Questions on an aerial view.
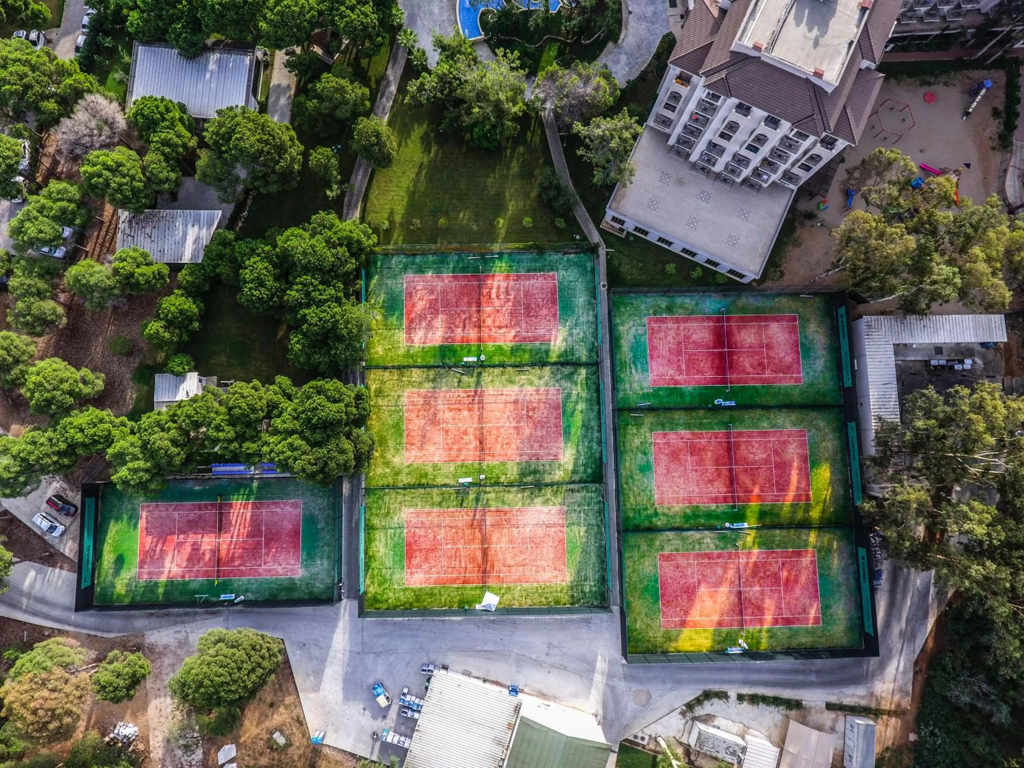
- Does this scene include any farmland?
No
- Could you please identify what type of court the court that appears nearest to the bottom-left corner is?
tennis court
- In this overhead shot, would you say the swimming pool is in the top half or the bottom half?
top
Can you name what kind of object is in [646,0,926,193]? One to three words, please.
building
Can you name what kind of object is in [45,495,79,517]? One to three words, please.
car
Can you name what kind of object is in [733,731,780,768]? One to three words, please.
shed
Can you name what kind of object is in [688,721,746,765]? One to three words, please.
shed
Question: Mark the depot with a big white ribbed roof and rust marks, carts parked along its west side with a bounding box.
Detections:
[403,664,522,768]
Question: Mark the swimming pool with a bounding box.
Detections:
[458,0,500,37]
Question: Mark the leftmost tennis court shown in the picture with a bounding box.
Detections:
[94,480,336,605]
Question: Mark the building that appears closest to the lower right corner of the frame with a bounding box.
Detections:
[838,714,876,768]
